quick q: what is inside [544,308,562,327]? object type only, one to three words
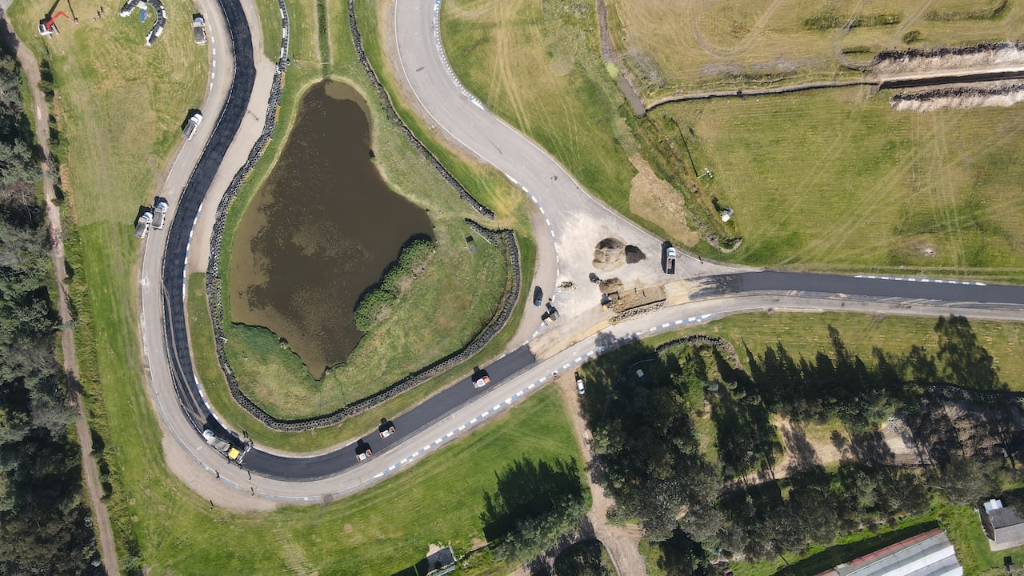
work vehicle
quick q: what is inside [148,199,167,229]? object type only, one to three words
vehicle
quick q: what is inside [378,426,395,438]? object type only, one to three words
vehicle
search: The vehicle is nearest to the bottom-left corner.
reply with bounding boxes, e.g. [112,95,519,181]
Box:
[199,429,228,455]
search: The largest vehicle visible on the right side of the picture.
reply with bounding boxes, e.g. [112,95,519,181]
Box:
[664,244,676,273]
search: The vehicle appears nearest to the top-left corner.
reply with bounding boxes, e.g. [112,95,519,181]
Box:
[38,16,76,40]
